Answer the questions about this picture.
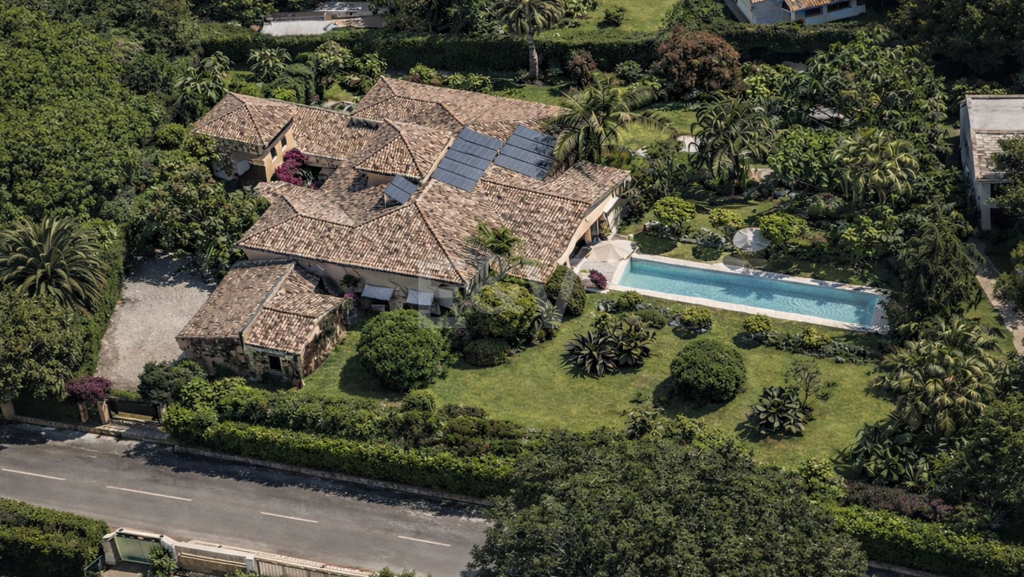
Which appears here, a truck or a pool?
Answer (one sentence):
This aerial view contains a pool.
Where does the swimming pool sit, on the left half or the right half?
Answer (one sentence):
You can find the swimming pool on the right side of the picture.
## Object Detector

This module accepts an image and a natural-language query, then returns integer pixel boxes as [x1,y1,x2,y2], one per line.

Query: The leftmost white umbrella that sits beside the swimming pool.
[586,235,637,279]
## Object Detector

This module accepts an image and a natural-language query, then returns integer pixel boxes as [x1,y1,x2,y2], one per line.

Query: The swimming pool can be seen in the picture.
[606,250,894,335]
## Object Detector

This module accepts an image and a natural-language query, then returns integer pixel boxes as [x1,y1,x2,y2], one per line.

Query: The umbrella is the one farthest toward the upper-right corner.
[732,228,769,265]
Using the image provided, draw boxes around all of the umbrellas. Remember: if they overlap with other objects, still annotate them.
[586,235,637,279]
[732,228,769,265]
